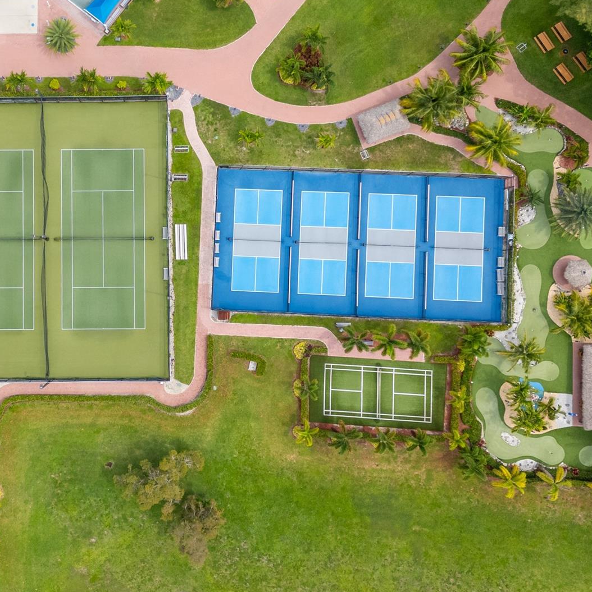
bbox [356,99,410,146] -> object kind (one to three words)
shed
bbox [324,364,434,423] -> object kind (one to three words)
sports court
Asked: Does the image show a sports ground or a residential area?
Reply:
sports ground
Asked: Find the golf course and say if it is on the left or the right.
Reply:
right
